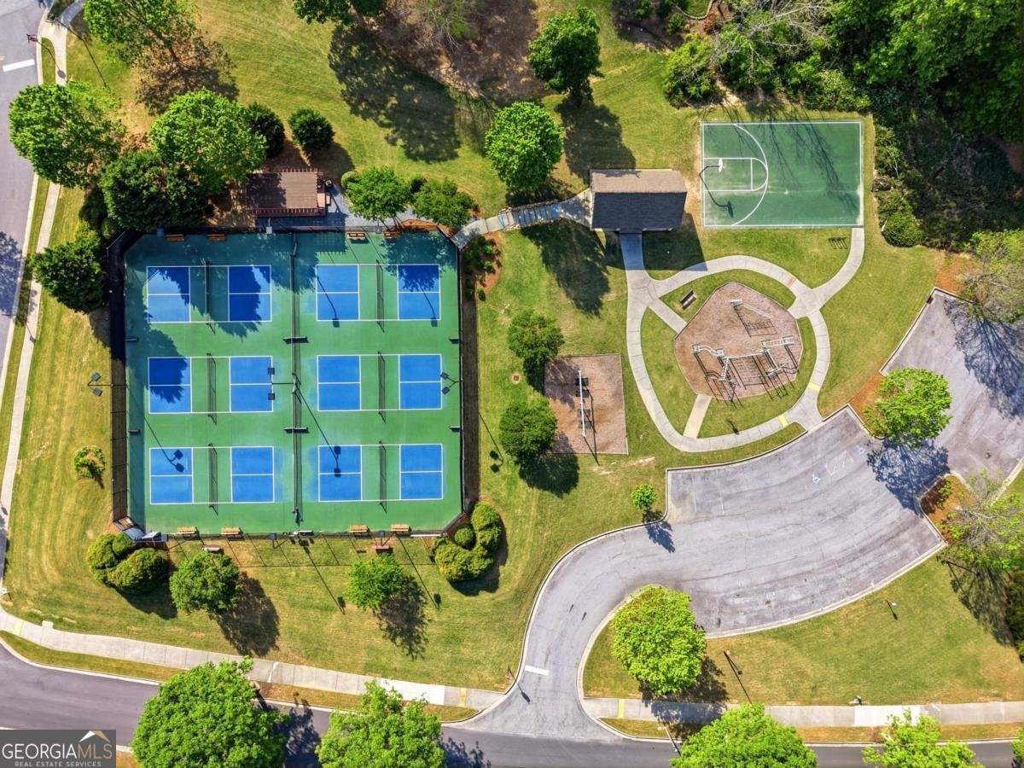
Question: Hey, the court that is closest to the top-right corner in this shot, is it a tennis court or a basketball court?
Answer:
basketball court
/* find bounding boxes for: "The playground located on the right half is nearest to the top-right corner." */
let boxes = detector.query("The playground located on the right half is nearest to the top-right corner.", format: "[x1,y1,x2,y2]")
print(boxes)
[674,282,804,400]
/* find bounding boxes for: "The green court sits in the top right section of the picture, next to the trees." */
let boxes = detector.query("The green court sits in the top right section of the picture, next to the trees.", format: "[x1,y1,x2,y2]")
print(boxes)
[701,121,864,229]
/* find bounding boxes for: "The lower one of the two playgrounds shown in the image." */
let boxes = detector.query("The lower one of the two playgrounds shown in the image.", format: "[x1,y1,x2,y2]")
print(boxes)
[544,353,629,455]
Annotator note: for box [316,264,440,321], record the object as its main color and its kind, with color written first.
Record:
blue sports court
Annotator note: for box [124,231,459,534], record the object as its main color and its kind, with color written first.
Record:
green tennis court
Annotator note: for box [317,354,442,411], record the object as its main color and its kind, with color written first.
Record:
blue sports court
